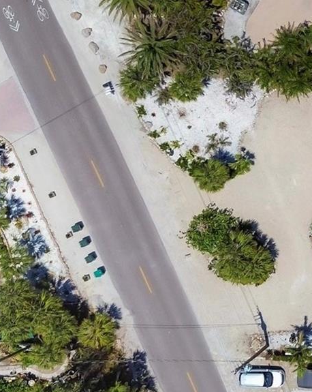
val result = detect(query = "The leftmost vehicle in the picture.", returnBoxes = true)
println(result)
[240,369,286,391]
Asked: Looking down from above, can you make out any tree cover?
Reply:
Yes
